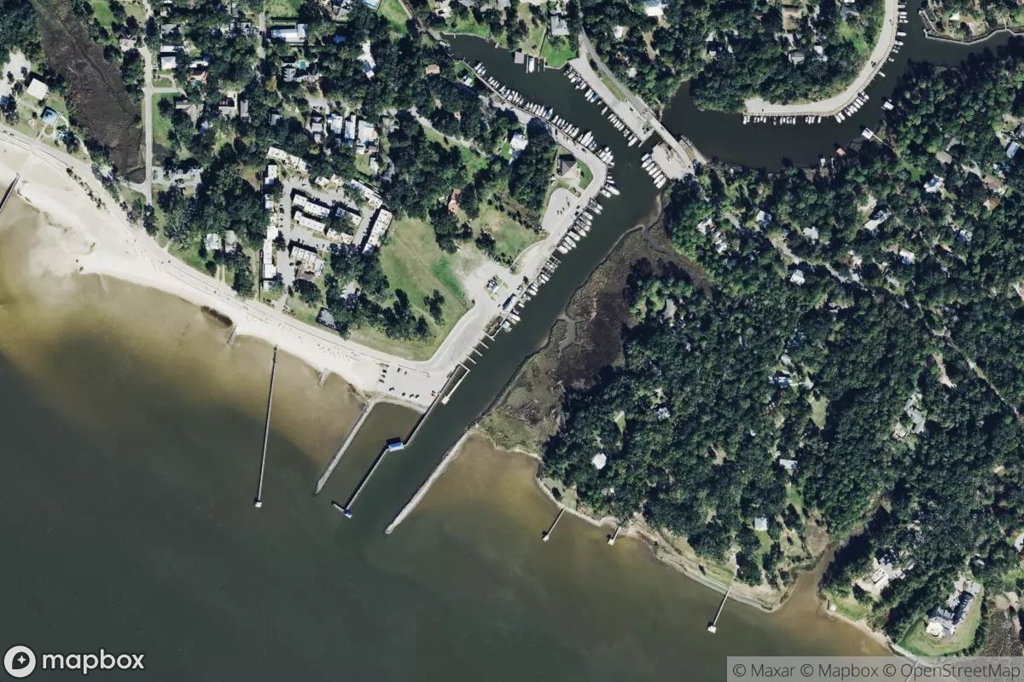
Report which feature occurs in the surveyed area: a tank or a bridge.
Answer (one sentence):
This aerial view contains a bridge.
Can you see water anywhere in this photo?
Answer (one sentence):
Yes, there's water in this view.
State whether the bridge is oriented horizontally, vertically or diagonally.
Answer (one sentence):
What the image shows is the bridge lying diagonally.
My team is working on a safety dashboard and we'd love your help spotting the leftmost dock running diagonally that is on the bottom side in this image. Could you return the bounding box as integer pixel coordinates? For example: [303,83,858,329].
[315,400,377,492]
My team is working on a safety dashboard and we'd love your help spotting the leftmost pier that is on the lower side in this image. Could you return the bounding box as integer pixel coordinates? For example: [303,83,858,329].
[254,345,276,508]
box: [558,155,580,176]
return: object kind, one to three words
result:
building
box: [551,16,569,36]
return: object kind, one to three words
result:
house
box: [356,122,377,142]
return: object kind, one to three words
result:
house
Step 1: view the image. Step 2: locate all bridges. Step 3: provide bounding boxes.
[644,106,693,162]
